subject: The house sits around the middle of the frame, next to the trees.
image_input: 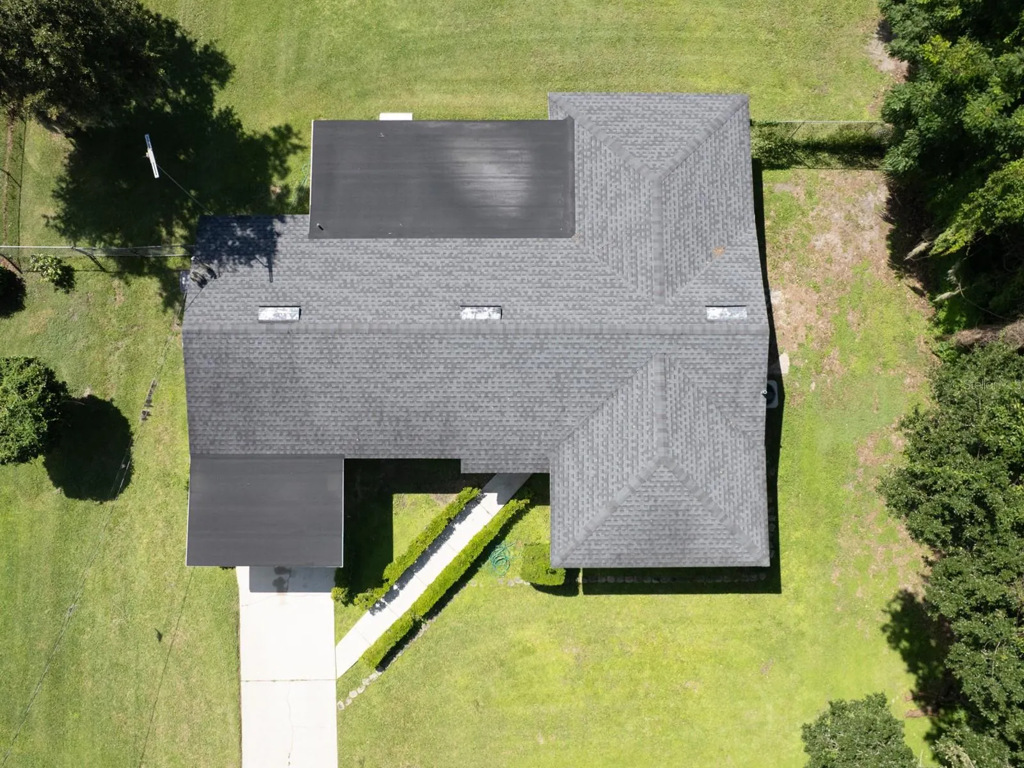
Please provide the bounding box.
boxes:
[182,92,770,569]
